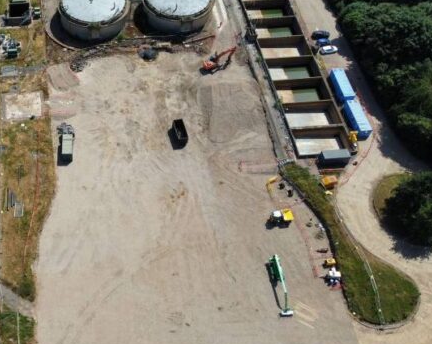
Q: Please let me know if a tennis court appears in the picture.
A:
No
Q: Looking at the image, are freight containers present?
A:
Yes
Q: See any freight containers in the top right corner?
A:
Yes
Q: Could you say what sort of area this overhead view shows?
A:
industrial area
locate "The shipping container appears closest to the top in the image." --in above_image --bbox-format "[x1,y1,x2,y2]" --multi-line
[328,69,354,106]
